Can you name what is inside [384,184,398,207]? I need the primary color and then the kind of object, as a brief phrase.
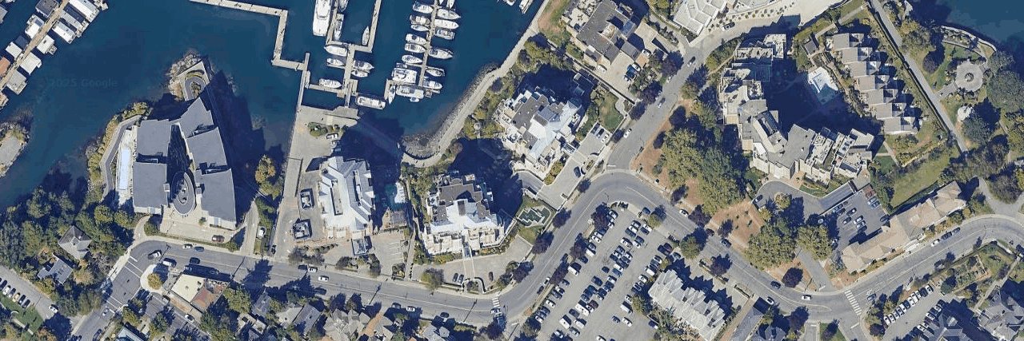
blue swimming pool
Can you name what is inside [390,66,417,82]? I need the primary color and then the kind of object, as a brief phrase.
white boat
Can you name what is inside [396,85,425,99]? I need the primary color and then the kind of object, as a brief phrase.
white boat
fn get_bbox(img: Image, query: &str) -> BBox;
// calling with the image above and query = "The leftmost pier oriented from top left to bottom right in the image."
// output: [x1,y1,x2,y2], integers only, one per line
[188,0,308,72]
